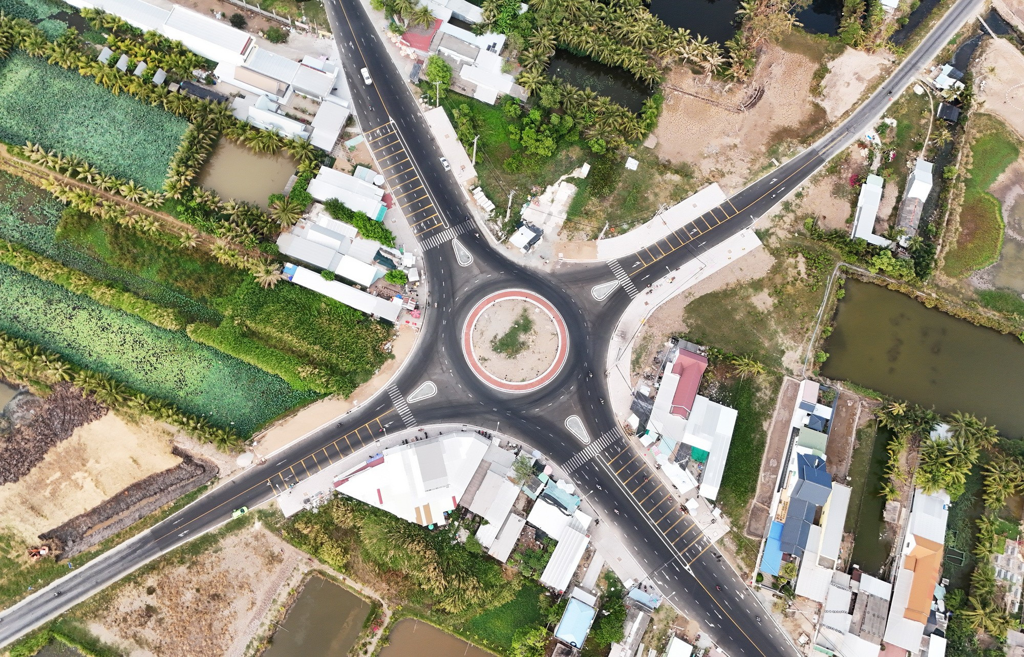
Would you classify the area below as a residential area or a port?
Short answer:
residential area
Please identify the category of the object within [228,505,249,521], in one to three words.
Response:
car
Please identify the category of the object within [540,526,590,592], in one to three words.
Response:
house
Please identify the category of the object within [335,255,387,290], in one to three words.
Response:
shed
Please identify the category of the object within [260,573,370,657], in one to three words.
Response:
pond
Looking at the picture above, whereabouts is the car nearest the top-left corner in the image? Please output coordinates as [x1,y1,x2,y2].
[360,65,372,83]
